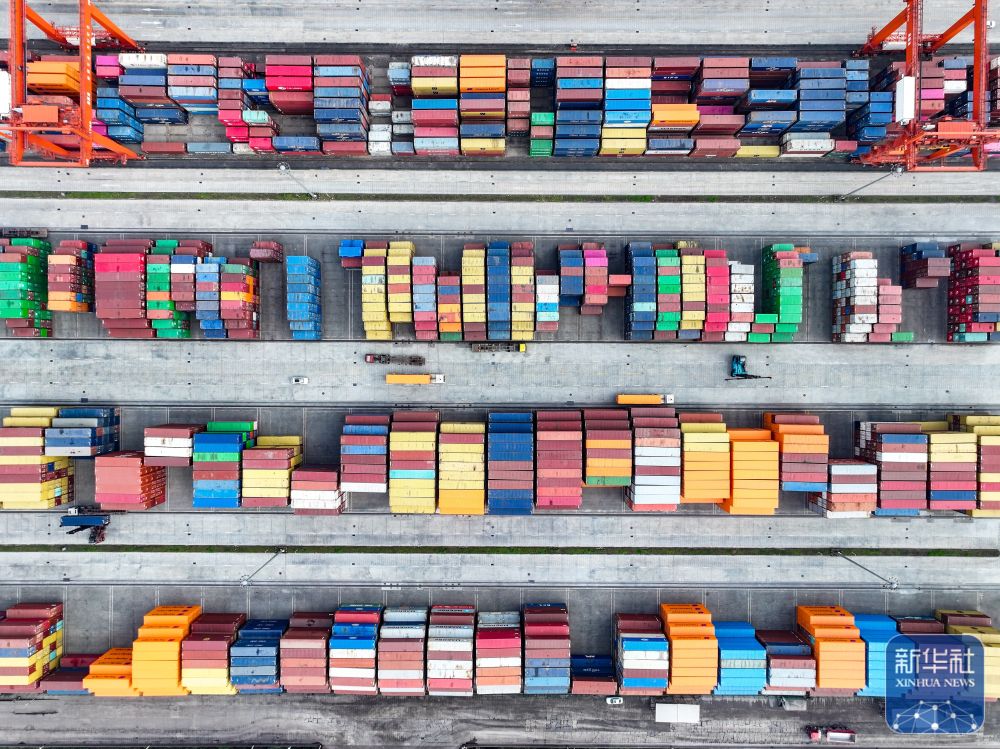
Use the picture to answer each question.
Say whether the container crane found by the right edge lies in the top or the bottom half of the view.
top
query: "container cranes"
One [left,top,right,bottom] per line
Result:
[0,0,146,168]
[856,0,1000,172]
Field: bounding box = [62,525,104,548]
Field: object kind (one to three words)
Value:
work vehicle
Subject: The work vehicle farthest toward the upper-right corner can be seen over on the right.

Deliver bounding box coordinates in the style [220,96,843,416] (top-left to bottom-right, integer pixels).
[725,350,774,380]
